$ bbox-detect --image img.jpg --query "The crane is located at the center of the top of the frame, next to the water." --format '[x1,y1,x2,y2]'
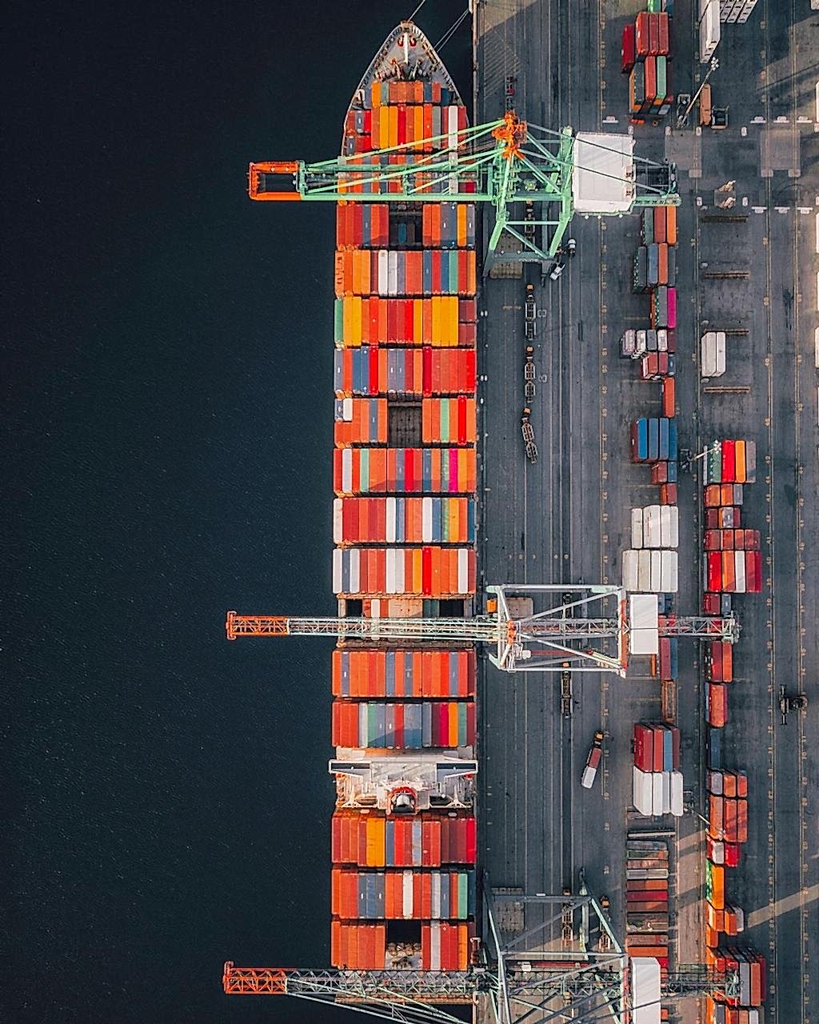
[251,113,681,290]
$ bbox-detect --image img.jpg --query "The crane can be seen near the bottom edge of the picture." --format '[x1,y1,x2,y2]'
[221,870,744,1024]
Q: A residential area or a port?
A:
port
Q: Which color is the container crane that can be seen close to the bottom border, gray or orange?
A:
gray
